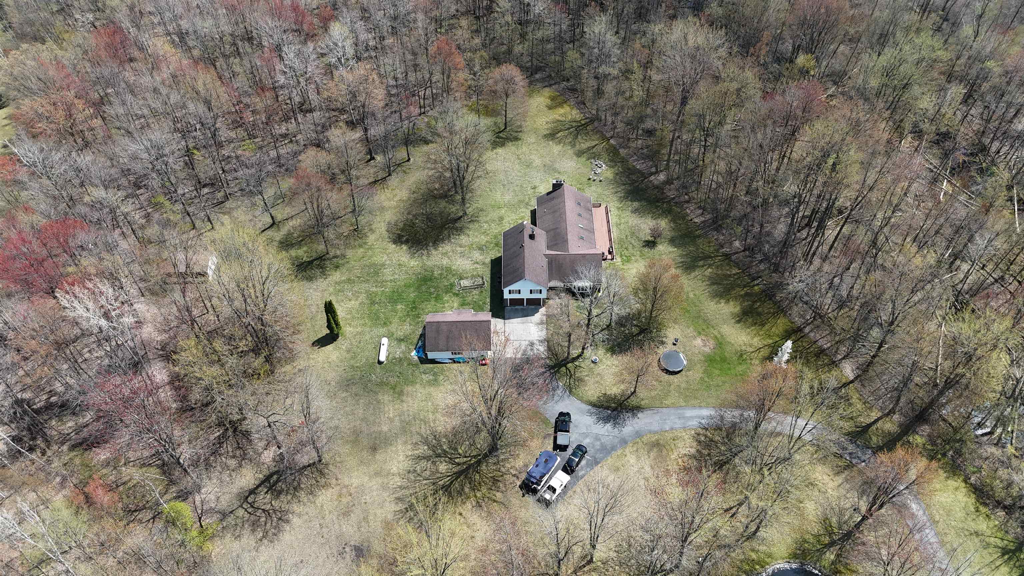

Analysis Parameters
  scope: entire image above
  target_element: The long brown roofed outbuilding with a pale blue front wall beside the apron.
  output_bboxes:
[425,310,492,358]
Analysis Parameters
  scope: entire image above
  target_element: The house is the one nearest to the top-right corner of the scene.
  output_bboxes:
[501,178,602,306]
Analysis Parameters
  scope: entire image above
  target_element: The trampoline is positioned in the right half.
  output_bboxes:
[660,350,687,375]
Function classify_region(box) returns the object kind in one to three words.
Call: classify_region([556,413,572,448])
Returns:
vehicle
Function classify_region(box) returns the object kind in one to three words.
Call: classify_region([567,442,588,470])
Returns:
car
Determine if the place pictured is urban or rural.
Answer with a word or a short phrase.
rural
